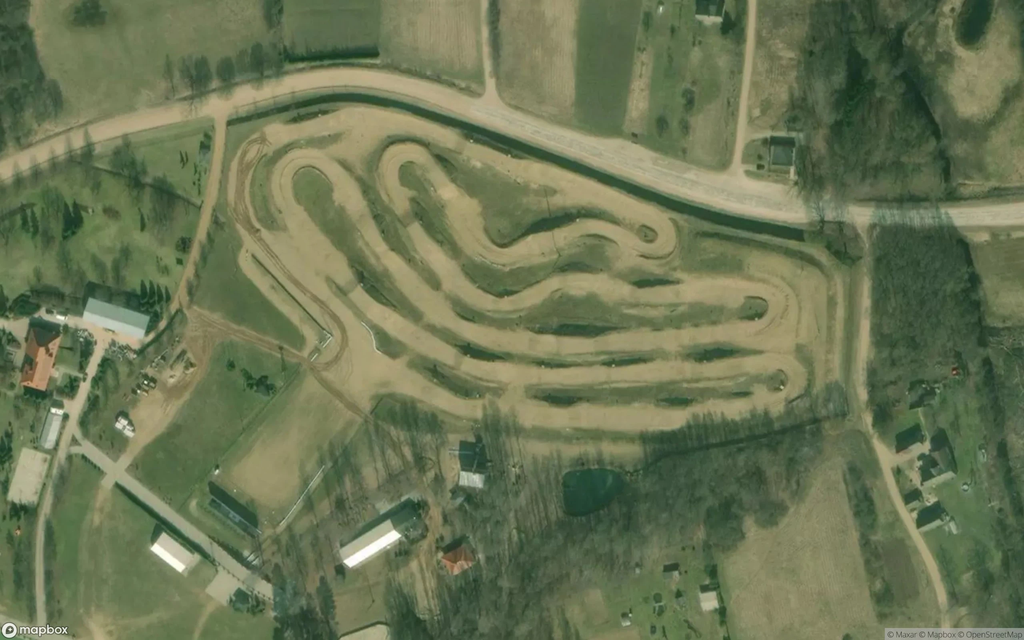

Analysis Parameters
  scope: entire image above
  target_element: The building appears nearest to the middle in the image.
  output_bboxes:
[459,447,488,488]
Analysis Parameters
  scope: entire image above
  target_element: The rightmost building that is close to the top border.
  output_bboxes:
[694,0,725,30]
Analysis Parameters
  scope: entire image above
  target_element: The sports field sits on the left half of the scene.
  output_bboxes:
[218,368,366,531]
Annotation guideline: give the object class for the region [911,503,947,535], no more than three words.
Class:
house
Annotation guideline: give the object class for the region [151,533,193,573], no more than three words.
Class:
shed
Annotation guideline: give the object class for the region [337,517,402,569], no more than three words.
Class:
barn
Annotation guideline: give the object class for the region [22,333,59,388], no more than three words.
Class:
house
